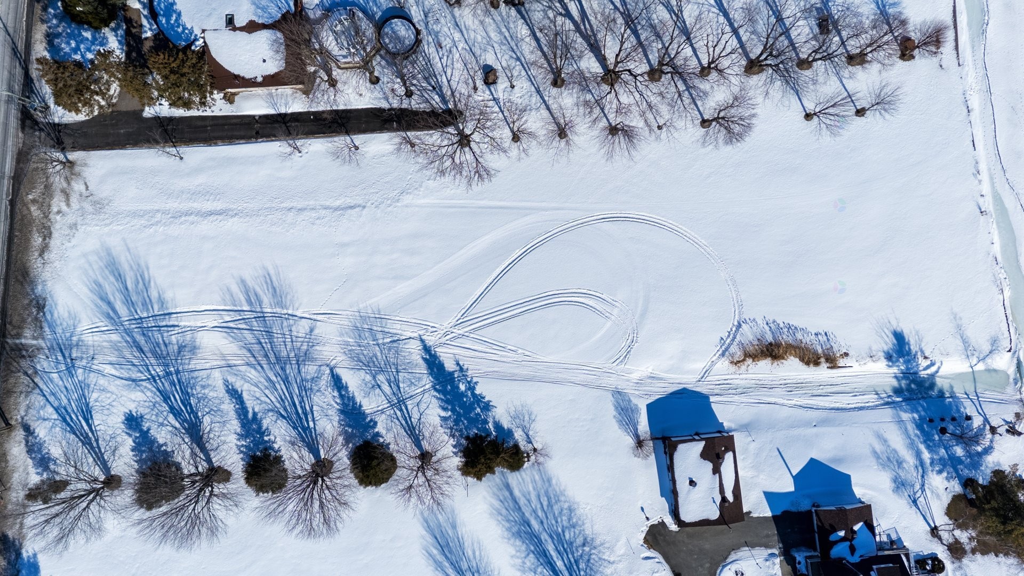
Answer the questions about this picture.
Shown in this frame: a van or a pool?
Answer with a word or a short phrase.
pool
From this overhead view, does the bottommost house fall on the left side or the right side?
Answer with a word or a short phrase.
right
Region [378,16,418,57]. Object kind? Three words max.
swimming pool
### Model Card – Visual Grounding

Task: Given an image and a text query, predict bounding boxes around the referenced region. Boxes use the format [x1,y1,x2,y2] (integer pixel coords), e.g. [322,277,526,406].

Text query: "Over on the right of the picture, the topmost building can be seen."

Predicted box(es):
[664,431,745,528]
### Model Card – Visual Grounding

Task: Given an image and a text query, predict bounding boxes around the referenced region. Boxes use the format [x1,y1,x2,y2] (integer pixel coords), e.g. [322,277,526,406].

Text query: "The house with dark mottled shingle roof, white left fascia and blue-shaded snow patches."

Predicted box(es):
[800,500,913,576]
